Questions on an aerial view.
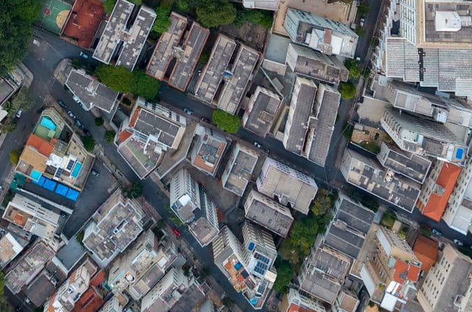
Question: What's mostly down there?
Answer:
buildings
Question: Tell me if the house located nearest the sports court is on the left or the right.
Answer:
left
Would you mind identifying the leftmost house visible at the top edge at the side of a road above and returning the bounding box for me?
[60,0,104,47]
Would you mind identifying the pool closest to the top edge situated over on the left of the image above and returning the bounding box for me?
[40,115,57,130]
